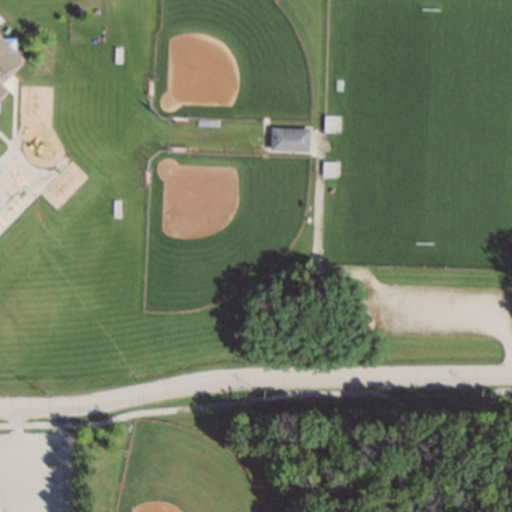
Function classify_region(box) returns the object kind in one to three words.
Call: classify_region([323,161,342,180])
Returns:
building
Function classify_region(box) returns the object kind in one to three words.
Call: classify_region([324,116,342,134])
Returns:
building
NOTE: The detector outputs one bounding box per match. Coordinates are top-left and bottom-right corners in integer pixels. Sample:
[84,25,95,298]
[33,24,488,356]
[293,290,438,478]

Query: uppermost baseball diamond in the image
[153,0,312,121]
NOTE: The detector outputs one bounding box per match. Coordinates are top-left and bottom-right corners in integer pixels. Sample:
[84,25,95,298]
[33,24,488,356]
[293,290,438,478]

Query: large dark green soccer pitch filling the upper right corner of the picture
[327,0,512,268]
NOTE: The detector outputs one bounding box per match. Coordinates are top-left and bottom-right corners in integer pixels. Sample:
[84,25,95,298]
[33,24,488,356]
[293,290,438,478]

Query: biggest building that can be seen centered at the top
[264,118,320,156]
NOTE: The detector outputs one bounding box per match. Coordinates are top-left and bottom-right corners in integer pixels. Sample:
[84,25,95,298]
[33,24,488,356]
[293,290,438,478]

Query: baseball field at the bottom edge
[116,418,258,512]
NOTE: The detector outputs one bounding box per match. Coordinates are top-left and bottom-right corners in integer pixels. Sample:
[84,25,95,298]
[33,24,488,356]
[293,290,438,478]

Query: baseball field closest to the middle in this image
[146,152,310,312]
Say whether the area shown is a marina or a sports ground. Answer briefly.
sports ground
